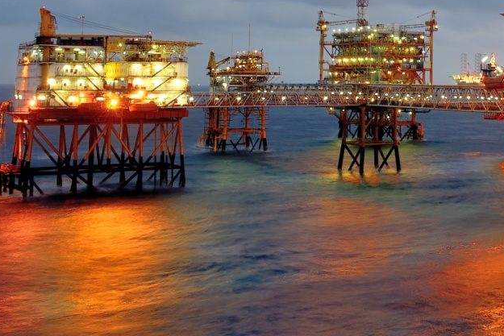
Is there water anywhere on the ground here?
Yes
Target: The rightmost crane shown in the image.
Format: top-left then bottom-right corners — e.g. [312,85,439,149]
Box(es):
[403,6,436,101]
